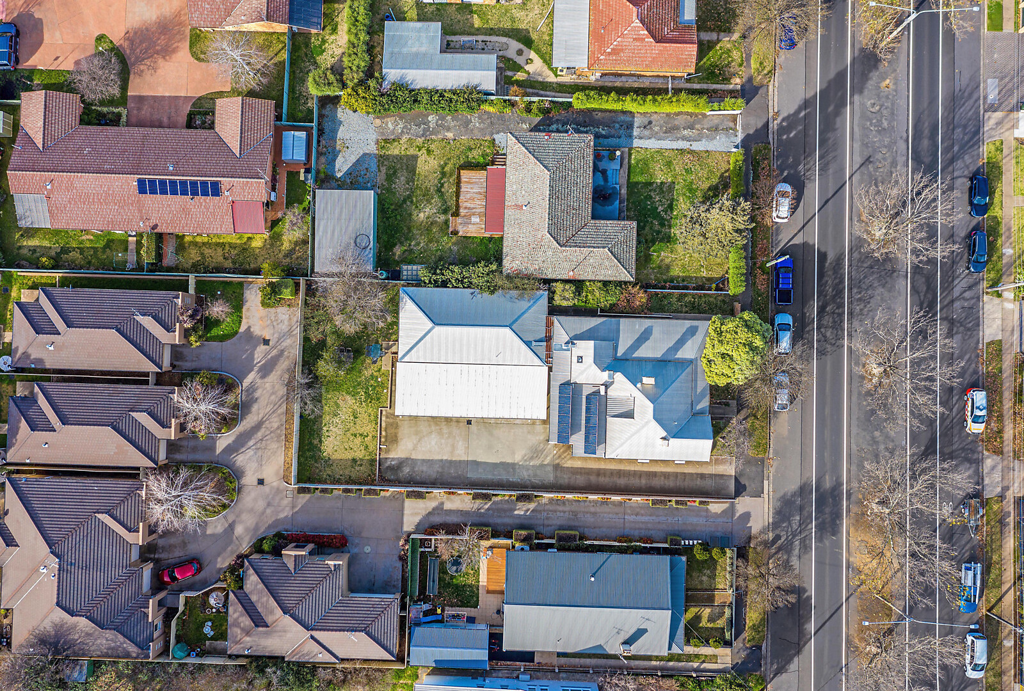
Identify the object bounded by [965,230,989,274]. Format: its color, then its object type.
blue car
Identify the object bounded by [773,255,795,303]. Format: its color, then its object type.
blue truck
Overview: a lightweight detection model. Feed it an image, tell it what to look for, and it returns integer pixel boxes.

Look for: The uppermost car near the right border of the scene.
[966,174,990,218]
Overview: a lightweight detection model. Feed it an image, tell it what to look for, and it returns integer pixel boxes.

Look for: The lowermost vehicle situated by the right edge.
[963,632,989,680]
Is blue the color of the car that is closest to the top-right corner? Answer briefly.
Yes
